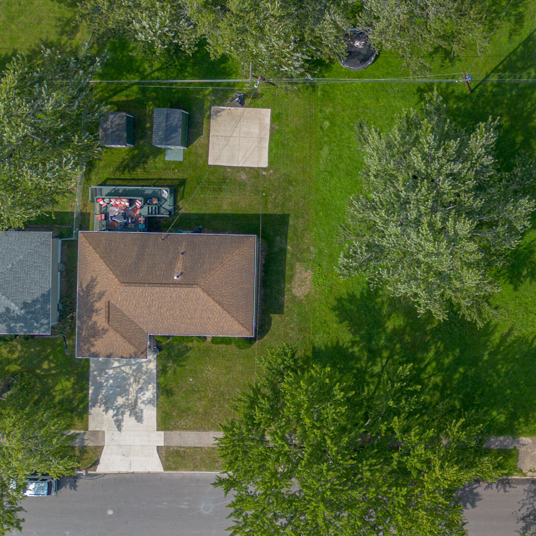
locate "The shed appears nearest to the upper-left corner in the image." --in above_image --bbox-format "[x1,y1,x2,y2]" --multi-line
[100,112,135,146]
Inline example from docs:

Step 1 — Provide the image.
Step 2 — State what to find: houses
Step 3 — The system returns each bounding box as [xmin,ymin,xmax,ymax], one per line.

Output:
[0,231,64,335]
[75,232,261,360]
